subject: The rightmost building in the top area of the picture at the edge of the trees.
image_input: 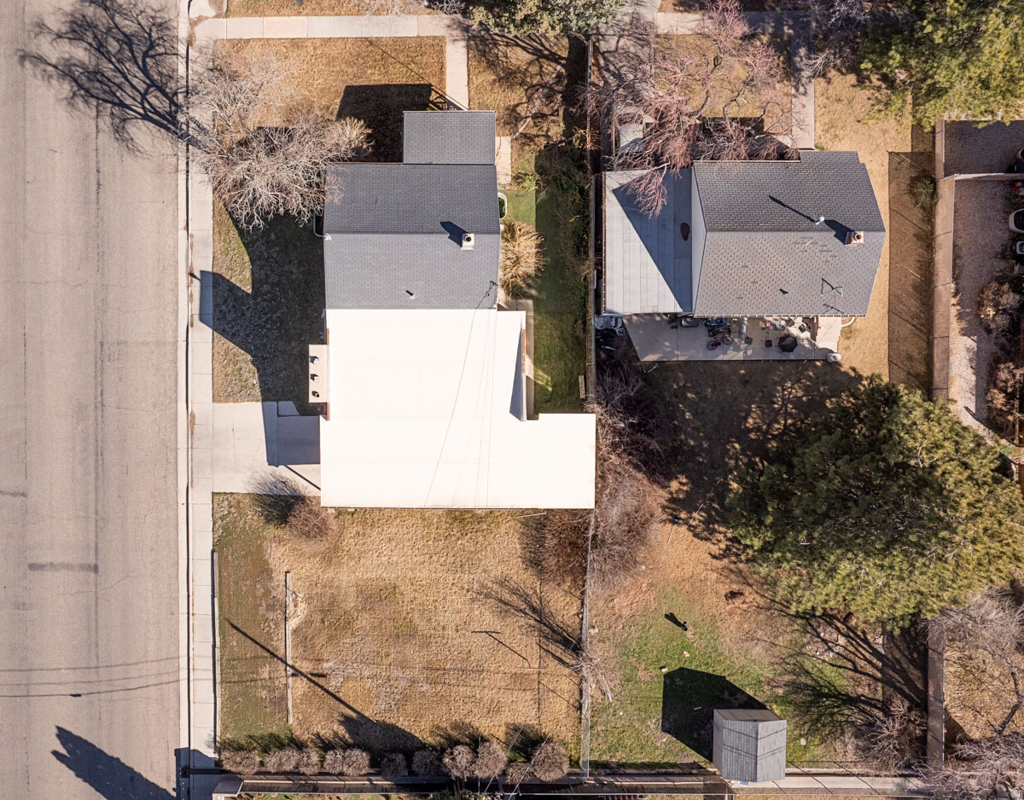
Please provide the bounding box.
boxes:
[597,152,887,318]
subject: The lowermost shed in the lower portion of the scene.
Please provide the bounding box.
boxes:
[714,709,786,780]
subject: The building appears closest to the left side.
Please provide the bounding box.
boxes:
[309,110,595,510]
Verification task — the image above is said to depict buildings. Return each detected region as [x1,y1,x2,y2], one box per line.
[597,152,887,318]
[714,709,786,780]
[309,110,595,510]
